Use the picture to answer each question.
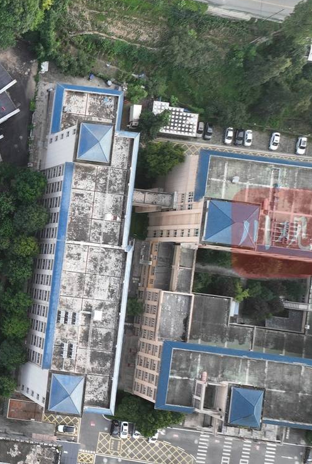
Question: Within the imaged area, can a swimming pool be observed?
No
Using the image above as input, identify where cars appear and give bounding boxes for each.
[234,129,244,146]
[195,121,206,139]
[203,122,214,140]
[223,126,234,144]
[295,136,307,155]
[269,132,280,150]
[303,446,312,464]
[146,435,158,446]
[111,419,121,438]
[131,430,141,441]
[120,420,128,438]
[243,129,254,146]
